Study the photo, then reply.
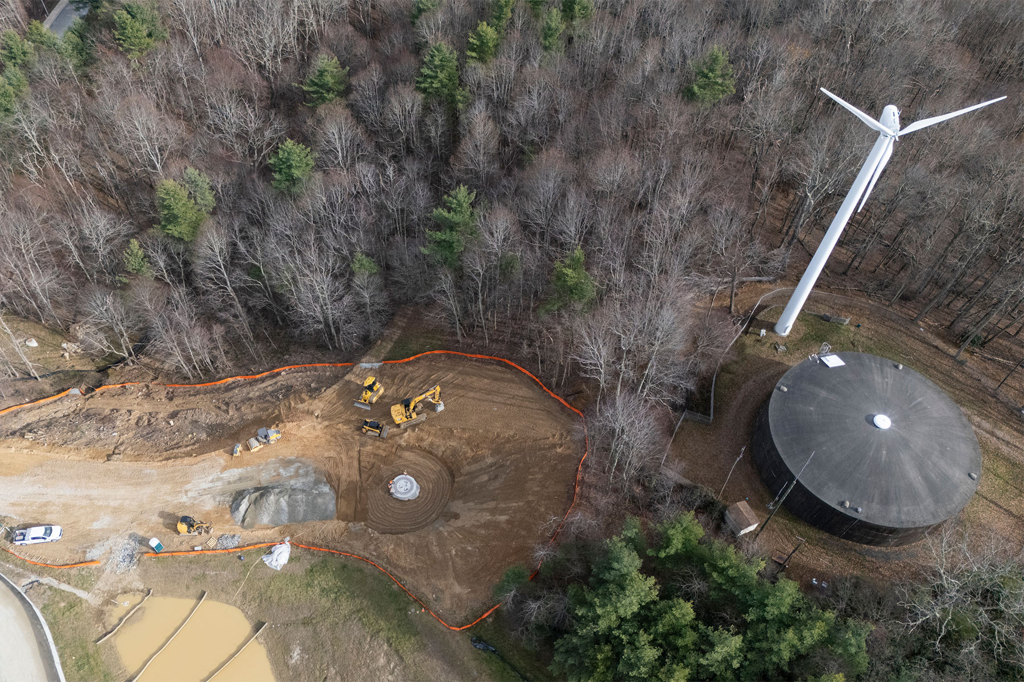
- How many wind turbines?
1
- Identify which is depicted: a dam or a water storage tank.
water storage tank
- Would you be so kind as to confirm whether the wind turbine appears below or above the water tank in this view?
above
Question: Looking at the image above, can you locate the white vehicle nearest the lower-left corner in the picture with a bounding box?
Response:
[14,524,63,543]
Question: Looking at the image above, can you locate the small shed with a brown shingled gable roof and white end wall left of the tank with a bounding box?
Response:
[726,495,763,534]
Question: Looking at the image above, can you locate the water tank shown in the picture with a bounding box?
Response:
[759,341,982,547]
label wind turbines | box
[774,88,1006,337]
